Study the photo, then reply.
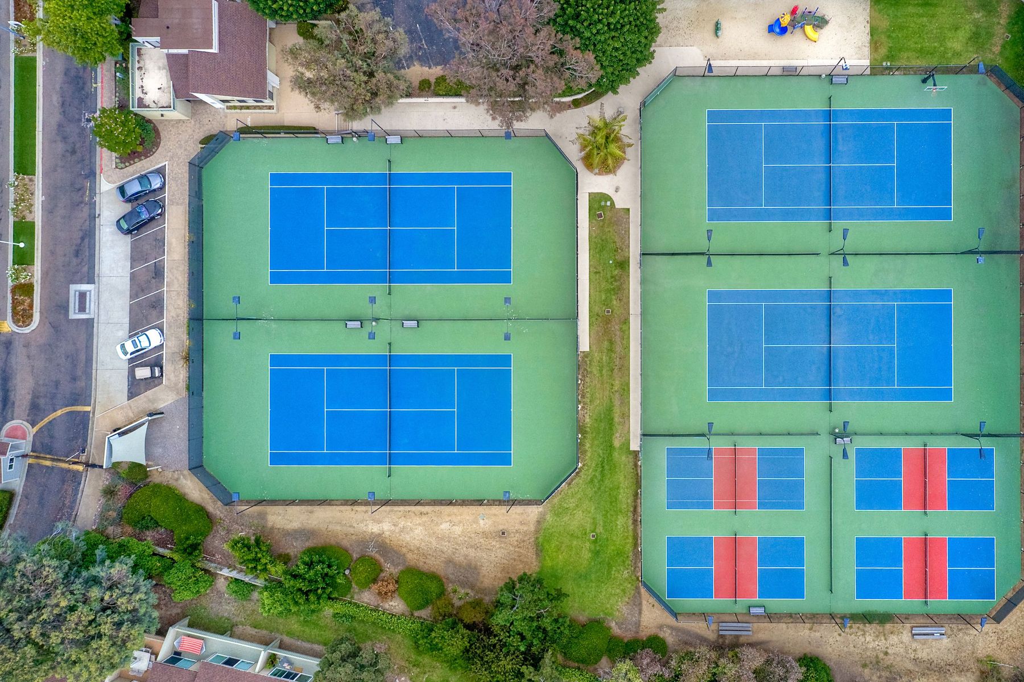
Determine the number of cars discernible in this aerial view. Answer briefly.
3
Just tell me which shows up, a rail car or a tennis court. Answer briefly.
tennis court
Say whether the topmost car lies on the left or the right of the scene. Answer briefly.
left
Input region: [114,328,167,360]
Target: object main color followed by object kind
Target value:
white car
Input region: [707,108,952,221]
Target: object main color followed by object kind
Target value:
blue tennis court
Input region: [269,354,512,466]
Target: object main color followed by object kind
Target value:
blue tennis court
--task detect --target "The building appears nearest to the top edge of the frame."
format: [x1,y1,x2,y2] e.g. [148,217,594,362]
[130,0,280,119]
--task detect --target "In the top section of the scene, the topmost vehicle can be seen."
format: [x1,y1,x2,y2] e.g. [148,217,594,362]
[115,171,169,204]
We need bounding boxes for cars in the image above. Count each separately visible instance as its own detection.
[114,328,167,360]
[114,199,167,235]
[115,171,169,204]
